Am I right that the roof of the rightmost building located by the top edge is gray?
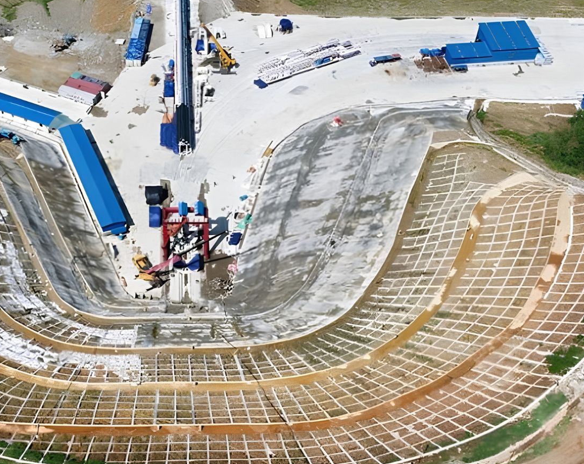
No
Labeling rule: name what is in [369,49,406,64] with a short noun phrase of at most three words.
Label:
vehicle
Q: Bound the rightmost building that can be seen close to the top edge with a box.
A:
[443,17,542,66]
